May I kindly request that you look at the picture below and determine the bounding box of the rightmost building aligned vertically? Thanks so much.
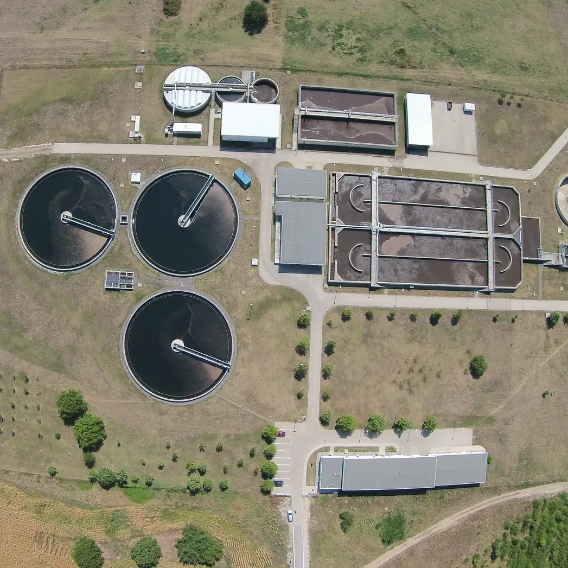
[404,93,432,148]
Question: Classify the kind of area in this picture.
industrial area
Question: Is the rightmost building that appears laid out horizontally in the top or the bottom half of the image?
bottom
